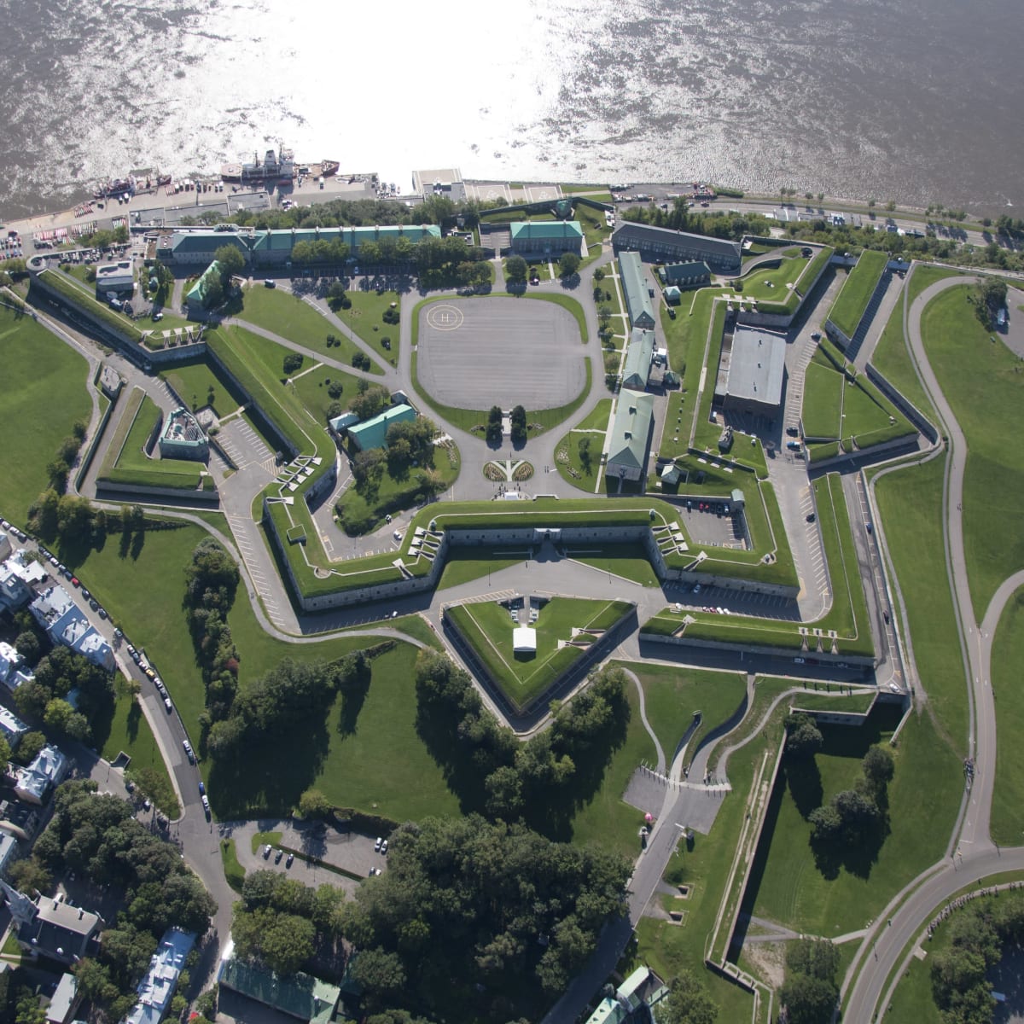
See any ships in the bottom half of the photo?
No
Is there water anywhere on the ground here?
Yes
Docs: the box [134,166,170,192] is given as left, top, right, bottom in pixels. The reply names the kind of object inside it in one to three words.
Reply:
vessel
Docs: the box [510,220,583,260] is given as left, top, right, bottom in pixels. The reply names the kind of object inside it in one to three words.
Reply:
house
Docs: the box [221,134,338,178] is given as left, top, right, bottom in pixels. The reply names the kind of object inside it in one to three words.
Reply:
ship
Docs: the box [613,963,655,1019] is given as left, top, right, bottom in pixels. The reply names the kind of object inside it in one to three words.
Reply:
building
